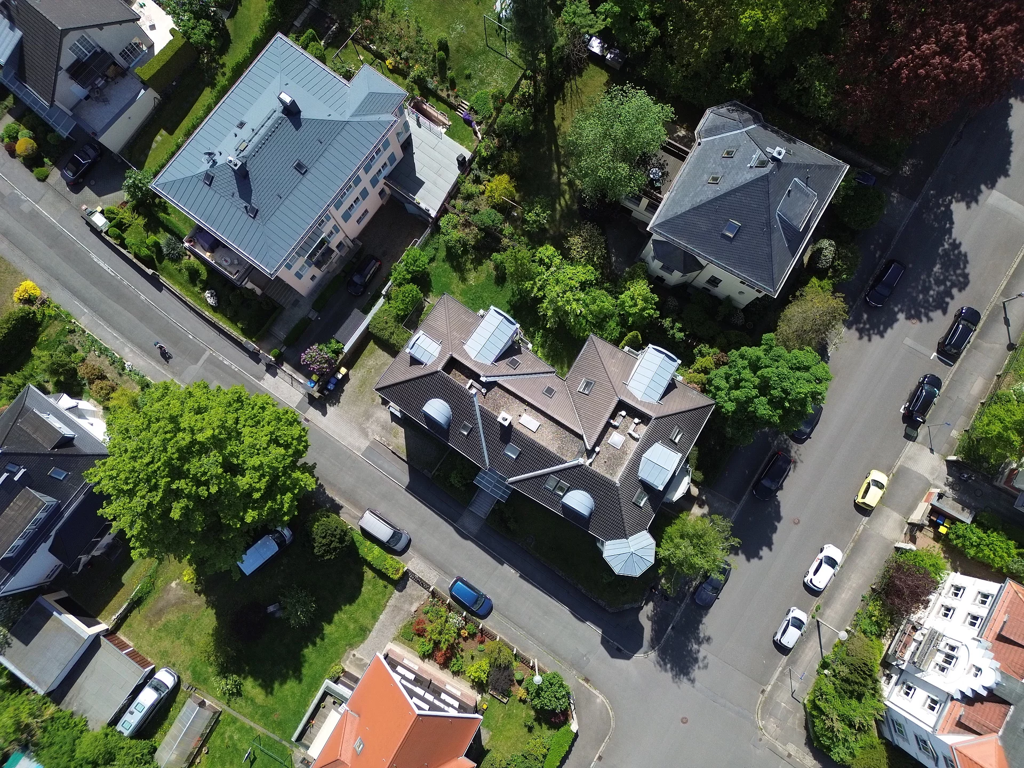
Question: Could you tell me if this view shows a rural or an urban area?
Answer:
urban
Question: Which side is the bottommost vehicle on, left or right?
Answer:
left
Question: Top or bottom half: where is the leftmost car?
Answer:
top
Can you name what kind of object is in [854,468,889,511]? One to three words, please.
car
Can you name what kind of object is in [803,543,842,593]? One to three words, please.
car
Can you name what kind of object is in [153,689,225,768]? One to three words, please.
greenhouse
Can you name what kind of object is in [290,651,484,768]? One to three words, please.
house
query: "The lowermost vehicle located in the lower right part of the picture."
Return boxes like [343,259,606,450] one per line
[773,605,808,651]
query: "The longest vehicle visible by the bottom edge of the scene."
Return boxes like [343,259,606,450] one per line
[114,664,185,735]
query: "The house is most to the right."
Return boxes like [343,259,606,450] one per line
[996,460,1024,510]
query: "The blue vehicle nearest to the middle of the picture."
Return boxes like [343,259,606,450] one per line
[447,577,494,622]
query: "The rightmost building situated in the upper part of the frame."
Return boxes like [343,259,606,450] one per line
[618,100,851,306]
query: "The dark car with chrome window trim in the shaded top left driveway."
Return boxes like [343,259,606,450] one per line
[60,141,104,188]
